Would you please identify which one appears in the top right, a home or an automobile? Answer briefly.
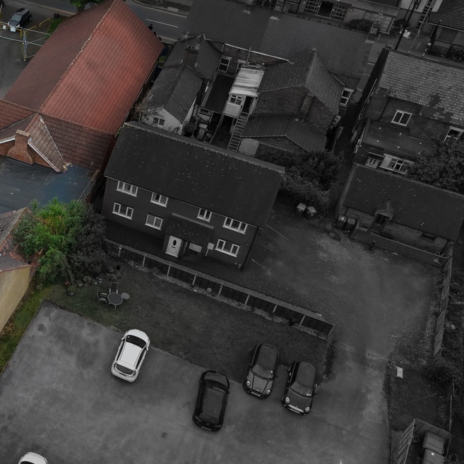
home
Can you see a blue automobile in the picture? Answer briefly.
No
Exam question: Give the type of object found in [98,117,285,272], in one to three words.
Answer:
house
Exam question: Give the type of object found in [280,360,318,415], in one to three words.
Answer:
car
